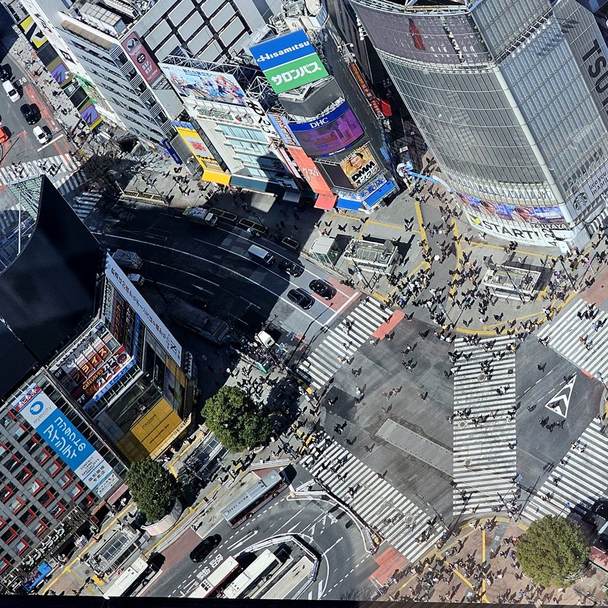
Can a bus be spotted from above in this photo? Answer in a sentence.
Yes, the picture does show a bus.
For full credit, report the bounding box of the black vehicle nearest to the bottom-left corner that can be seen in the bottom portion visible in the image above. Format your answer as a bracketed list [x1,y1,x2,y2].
[188,533,222,562]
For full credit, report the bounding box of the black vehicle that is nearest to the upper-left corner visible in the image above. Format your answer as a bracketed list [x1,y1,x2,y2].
[0,61,12,81]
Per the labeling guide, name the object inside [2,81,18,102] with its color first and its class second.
white car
